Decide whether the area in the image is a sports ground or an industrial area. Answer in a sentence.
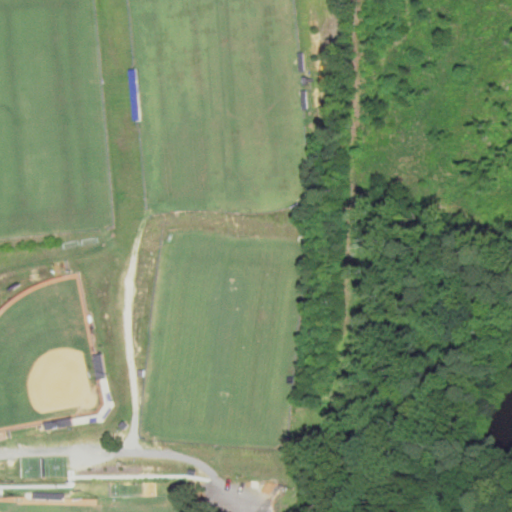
The area seen from above is a sports ground.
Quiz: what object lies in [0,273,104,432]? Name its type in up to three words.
baseball field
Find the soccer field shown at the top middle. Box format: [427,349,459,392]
[130,0,306,214]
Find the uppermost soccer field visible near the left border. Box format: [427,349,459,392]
[0,0,112,236]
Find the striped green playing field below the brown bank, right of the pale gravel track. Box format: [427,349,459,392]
[142,232,300,446]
